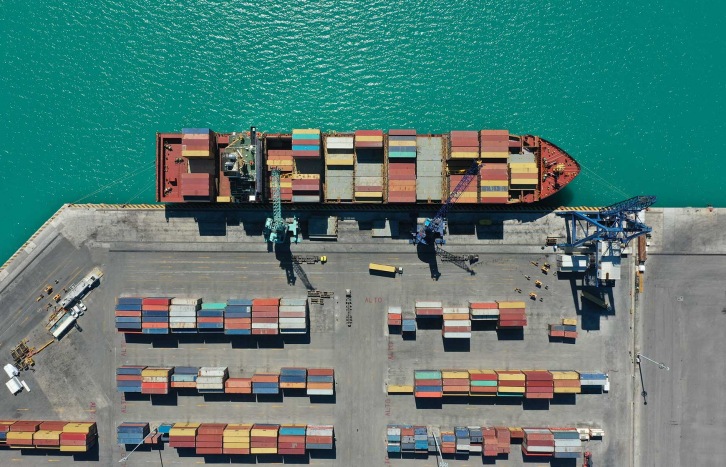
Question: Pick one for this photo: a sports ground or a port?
port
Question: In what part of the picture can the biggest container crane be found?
right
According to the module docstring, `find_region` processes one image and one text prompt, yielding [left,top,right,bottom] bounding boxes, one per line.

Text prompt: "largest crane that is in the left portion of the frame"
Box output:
[265,167,301,247]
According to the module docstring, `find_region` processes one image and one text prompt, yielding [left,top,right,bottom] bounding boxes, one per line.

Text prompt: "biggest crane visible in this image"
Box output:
[555,195,659,290]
